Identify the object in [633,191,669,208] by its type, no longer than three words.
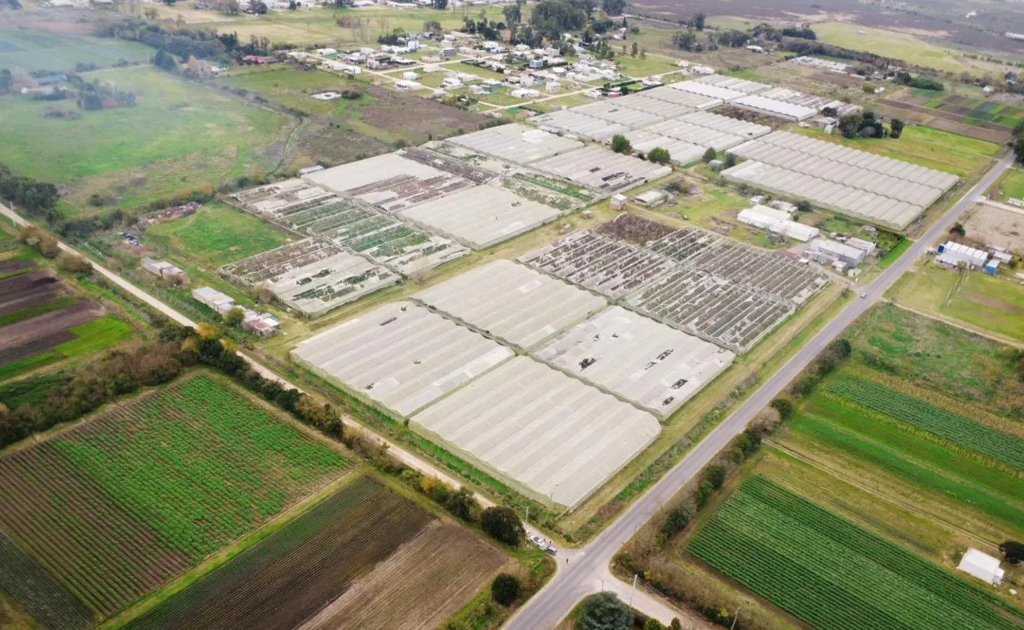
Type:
greenhouse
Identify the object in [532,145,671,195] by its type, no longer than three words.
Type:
greenhouse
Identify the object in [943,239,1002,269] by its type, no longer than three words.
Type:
building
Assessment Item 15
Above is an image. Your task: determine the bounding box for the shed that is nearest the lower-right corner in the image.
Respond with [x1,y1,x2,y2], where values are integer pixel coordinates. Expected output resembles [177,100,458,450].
[960,550,1011,587]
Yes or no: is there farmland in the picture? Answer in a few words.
Yes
